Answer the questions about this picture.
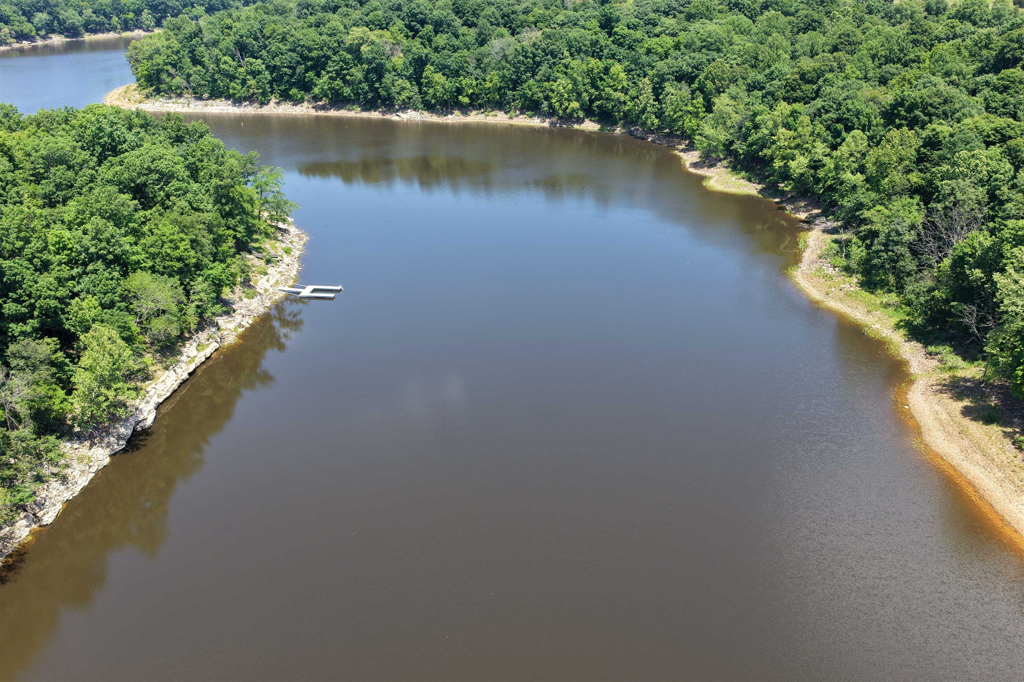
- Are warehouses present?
No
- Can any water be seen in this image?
Yes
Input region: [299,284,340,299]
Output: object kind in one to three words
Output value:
pier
